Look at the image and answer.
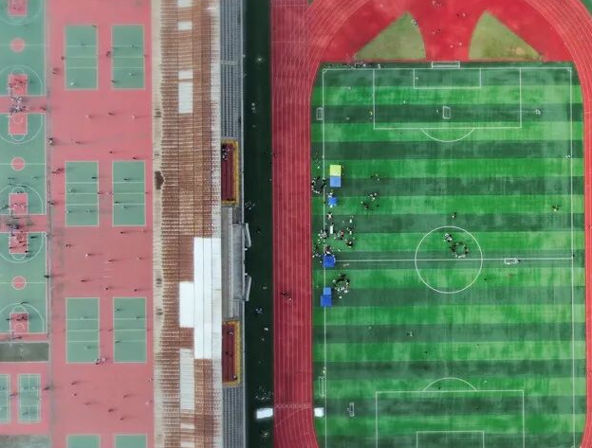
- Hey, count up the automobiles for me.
0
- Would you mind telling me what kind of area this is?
sports ground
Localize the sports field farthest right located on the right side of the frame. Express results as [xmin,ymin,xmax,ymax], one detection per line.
[310,62,587,448]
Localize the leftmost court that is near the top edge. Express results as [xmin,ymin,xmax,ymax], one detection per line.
[0,0,46,96]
